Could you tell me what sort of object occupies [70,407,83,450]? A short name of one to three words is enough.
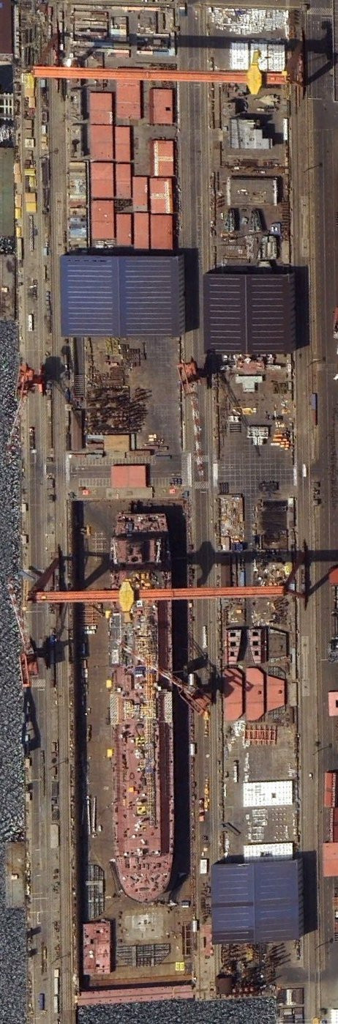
building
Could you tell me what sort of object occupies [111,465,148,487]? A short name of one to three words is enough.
building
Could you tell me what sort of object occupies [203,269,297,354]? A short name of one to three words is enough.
hangar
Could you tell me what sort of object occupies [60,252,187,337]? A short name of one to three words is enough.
hangar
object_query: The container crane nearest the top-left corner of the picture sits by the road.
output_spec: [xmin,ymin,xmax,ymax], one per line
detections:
[29,21,306,100]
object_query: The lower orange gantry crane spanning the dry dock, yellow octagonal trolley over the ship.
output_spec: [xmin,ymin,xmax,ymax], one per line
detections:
[27,541,308,614]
